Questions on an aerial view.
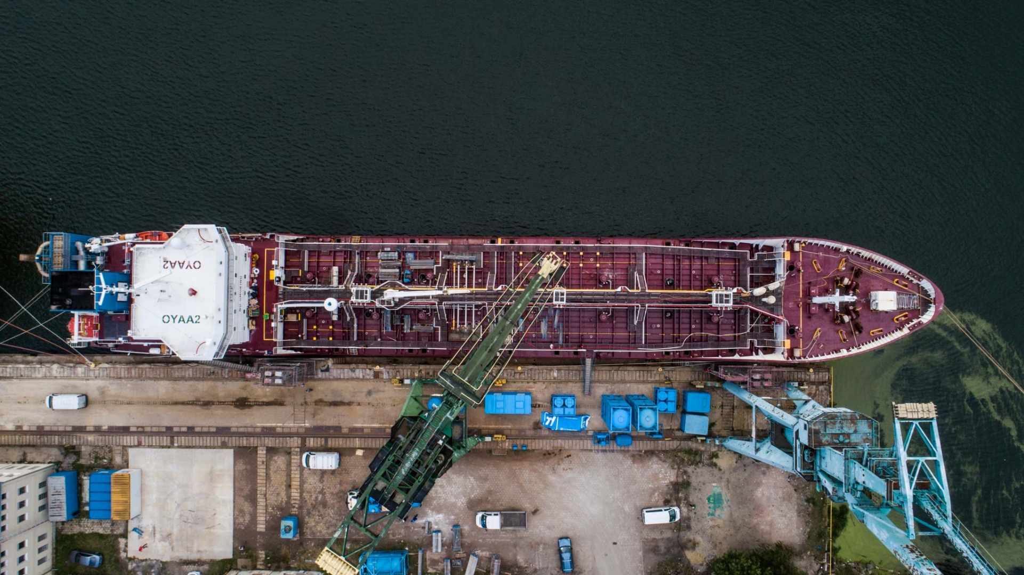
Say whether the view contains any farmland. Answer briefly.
No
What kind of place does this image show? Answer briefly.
port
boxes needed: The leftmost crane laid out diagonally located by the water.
[314,250,570,575]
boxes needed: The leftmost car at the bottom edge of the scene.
[71,547,106,566]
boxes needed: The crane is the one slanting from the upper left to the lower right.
[689,379,1014,575]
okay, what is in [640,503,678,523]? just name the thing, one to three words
vehicle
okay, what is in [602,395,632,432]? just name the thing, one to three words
storage tank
